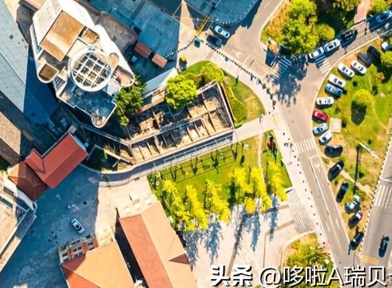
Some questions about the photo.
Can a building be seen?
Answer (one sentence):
Yes, a building appears in the view.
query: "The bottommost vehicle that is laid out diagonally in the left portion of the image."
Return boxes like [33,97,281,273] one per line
[69,216,84,234]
